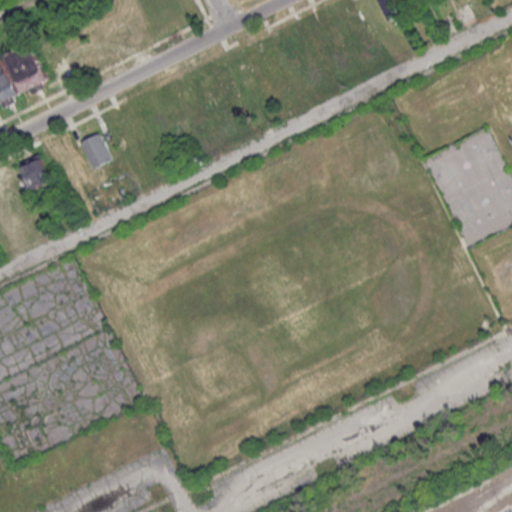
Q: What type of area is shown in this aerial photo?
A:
sports ground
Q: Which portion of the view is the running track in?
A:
center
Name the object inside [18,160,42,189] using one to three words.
house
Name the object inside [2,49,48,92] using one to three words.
house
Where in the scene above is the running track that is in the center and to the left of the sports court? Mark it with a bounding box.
[150,196,429,404]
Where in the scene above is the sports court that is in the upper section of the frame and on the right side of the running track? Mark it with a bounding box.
[426,132,512,244]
